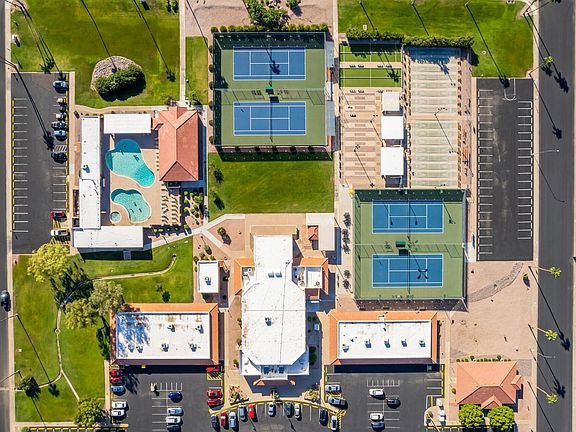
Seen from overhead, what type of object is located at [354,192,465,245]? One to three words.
tennis court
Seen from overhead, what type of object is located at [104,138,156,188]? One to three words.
swimming pool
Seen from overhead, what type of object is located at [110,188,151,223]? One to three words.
swimming pool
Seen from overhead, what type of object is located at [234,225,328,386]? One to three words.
building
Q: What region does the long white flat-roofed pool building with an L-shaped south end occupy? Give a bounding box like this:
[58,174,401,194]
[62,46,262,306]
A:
[74,116,146,248]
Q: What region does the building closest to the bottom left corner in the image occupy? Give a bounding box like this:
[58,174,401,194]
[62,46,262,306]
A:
[110,304,219,365]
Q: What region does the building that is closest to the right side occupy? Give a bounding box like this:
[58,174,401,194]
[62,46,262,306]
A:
[456,361,521,406]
